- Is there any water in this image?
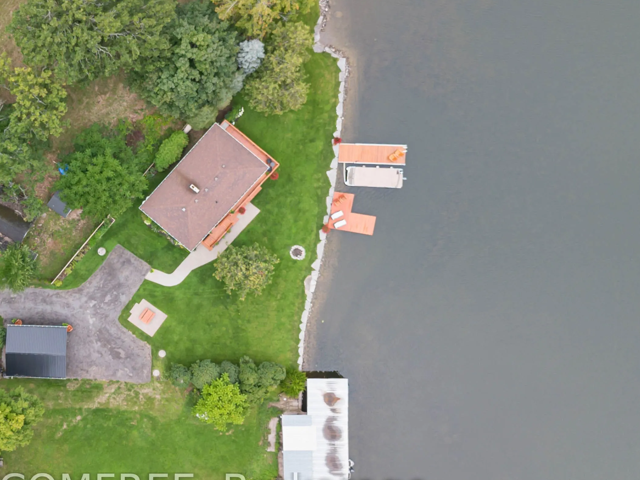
Yes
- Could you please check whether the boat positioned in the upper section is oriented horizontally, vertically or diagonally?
horizontally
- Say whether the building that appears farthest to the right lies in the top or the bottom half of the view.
bottom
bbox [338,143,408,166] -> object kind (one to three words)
pier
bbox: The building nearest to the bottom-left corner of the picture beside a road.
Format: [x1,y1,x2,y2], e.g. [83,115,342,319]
[5,324,70,380]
